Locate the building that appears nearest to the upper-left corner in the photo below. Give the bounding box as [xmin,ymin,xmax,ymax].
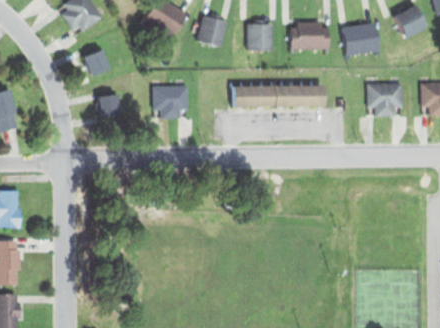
[62,0,102,34]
